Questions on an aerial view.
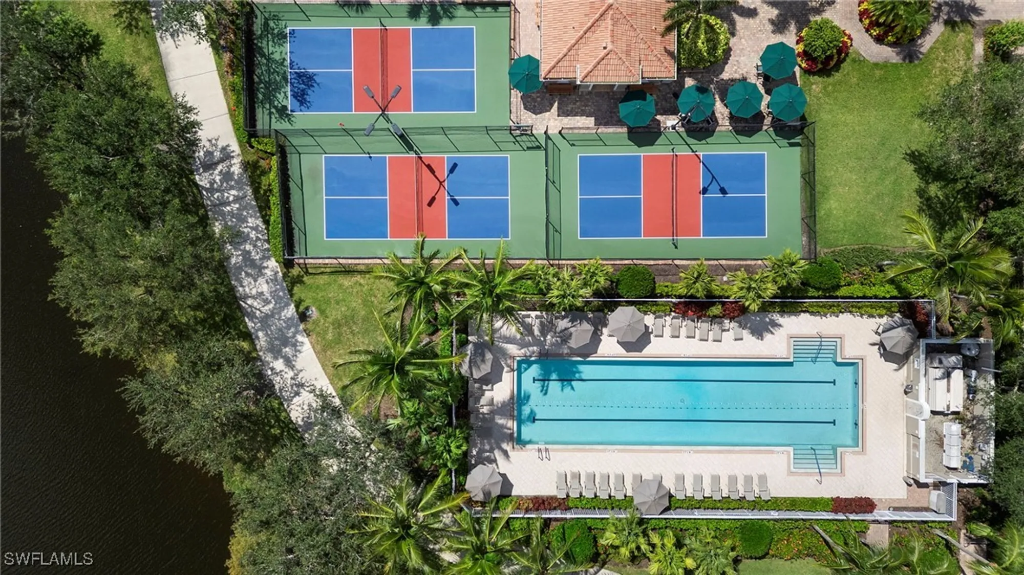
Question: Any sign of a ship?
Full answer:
No, there is no ship in the image.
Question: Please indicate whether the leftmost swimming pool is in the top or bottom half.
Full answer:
The leftmost swimming pool sits in the bottom half of the picture.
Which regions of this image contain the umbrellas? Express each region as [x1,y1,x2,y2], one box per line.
[878,315,915,352]
[619,91,654,127]
[458,340,495,377]
[466,464,502,500]
[768,83,806,121]
[759,41,797,79]
[559,311,597,349]
[507,56,542,94]
[676,85,714,123]
[632,477,668,513]
[609,305,645,341]
[725,82,763,119]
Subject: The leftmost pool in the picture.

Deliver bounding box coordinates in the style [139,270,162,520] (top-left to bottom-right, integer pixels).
[509,333,867,476]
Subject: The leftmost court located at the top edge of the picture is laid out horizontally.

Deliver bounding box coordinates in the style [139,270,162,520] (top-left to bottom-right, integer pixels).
[254,3,510,129]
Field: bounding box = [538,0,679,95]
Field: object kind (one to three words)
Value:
building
